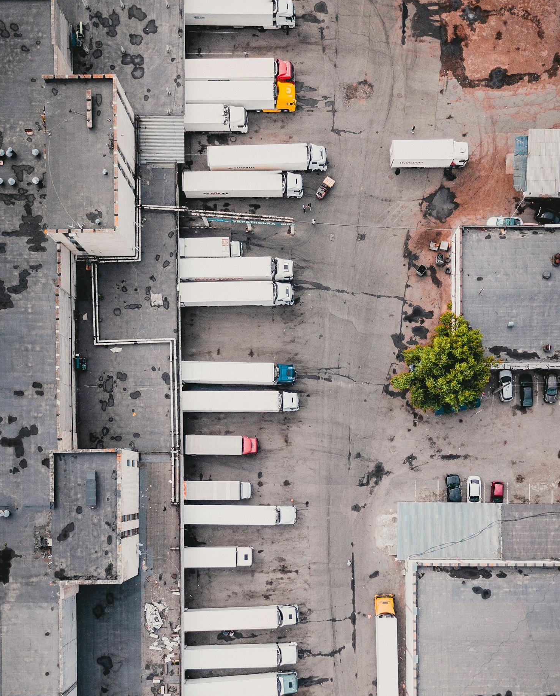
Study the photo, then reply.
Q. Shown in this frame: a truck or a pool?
truck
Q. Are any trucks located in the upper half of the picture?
Yes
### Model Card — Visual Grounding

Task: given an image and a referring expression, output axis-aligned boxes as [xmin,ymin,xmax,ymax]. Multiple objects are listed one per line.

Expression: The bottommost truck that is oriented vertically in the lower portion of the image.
[374,591,398,696]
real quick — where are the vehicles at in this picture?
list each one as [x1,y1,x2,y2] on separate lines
[182,479,254,501]
[466,475,483,502]
[186,503,297,526]
[437,396,478,418]
[183,281,295,307]
[183,238,245,258]
[183,170,304,200]
[374,591,398,696]
[186,603,300,631]
[490,479,505,503]
[186,643,299,670]
[519,373,535,408]
[390,140,470,169]
[186,671,300,696]
[185,80,297,112]
[186,435,260,456]
[185,0,297,30]
[542,373,560,405]
[317,180,331,201]
[183,257,295,282]
[184,362,297,385]
[206,144,329,173]
[445,474,462,502]
[184,104,249,134]
[184,390,301,414]
[185,58,296,89]
[534,209,560,225]
[186,545,255,568]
